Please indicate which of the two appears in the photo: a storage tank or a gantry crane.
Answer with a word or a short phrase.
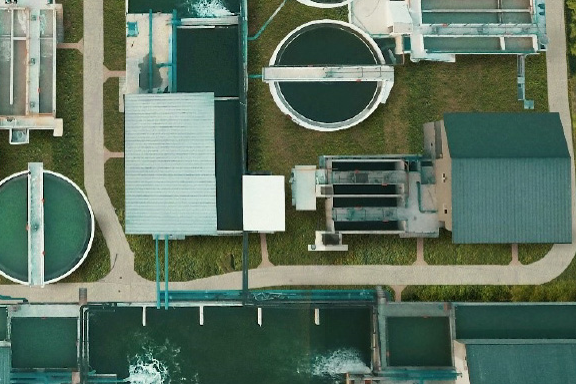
storage tank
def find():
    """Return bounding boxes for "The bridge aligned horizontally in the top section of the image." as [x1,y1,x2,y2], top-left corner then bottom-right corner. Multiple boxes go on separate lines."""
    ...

[260,66,395,83]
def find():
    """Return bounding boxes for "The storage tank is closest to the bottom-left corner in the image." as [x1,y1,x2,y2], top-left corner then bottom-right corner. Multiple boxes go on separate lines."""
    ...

[0,163,94,287]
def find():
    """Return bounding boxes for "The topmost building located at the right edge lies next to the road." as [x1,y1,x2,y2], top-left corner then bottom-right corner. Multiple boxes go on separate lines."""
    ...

[418,113,576,243]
